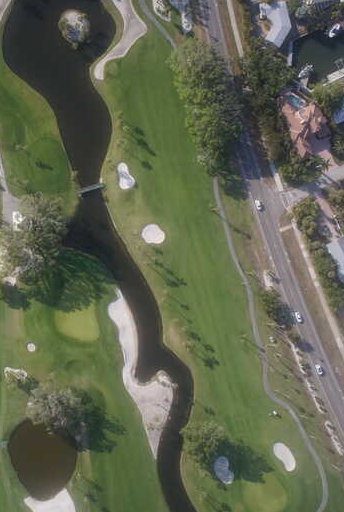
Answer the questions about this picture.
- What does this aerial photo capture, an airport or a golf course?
golf course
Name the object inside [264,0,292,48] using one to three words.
house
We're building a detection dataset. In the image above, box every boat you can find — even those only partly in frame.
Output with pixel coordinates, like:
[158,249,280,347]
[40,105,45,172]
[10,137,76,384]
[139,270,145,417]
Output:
[330,24,341,36]
[298,68,312,79]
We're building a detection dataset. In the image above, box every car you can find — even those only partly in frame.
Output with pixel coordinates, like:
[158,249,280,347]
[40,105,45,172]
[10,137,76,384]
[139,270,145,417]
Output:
[255,200,261,211]
[315,364,322,375]
[294,312,301,323]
